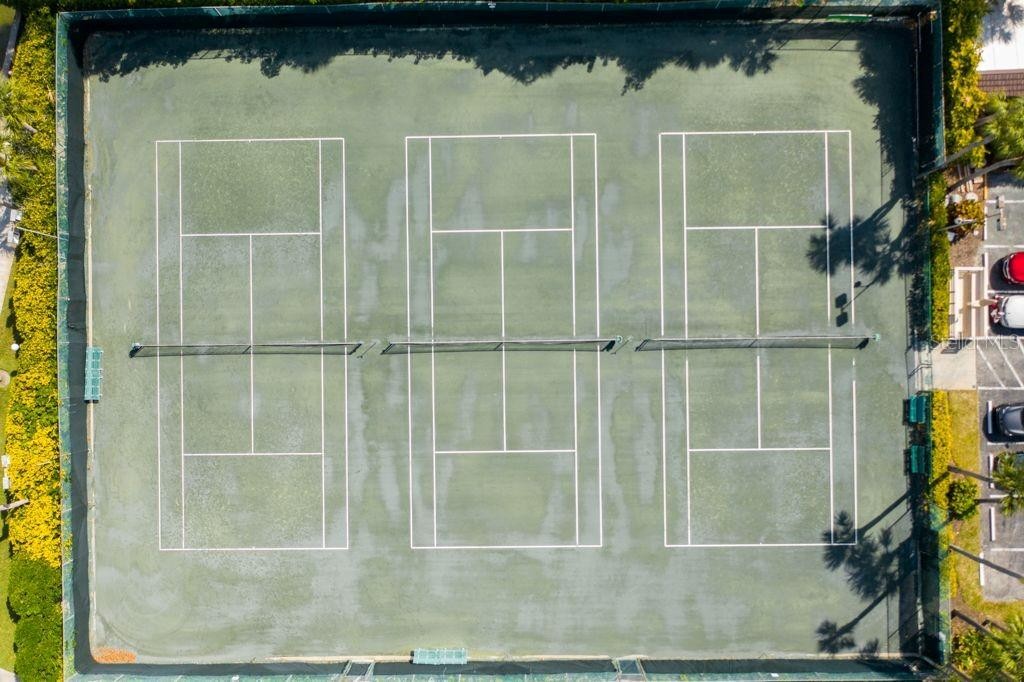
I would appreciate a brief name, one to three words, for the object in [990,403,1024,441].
car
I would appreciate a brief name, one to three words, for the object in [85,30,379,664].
tennis court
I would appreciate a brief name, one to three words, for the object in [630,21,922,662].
tennis court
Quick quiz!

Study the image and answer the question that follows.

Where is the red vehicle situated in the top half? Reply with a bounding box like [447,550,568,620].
[999,251,1024,285]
